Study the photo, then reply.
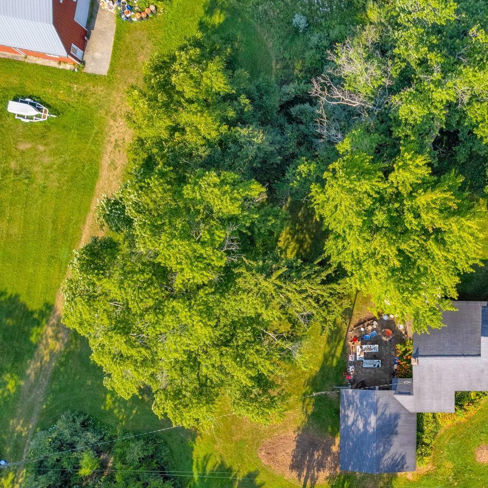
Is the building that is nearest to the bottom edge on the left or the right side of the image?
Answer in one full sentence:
You can find the building that is nearest to the bottom edge on the right side of the picture.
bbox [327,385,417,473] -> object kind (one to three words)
building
